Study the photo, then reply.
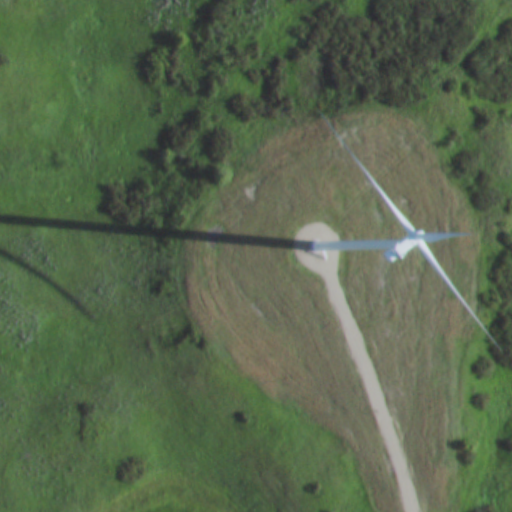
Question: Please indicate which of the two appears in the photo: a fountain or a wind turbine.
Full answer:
Visible in the photo is a wind turbine.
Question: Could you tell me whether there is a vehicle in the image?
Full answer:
No, no vehicle is visible in the scene.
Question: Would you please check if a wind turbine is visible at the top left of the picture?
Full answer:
No, I see no wind turbine at the top left of the picture.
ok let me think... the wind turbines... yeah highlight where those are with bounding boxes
[312,110,500,350]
